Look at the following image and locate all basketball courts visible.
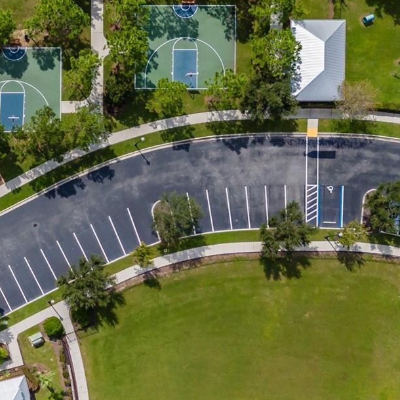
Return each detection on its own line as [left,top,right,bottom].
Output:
[0,47,61,132]
[134,5,235,89]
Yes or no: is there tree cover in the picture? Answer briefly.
Yes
